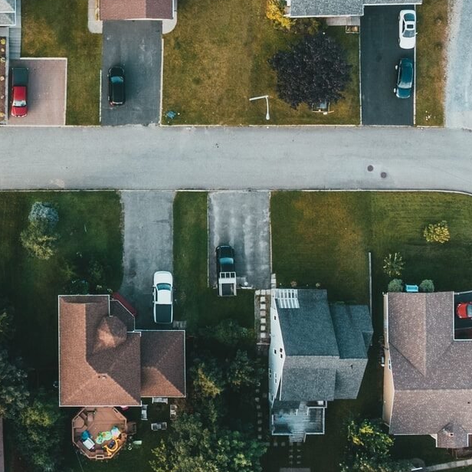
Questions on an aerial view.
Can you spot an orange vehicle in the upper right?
No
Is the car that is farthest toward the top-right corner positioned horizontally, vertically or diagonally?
vertically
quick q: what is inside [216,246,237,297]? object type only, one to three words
truck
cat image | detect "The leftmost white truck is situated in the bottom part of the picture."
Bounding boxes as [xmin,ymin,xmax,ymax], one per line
[153,271,175,323]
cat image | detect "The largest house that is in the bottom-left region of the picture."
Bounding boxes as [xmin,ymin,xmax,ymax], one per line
[58,295,187,407]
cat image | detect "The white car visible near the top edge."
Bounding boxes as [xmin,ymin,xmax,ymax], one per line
[398,10,418,49]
